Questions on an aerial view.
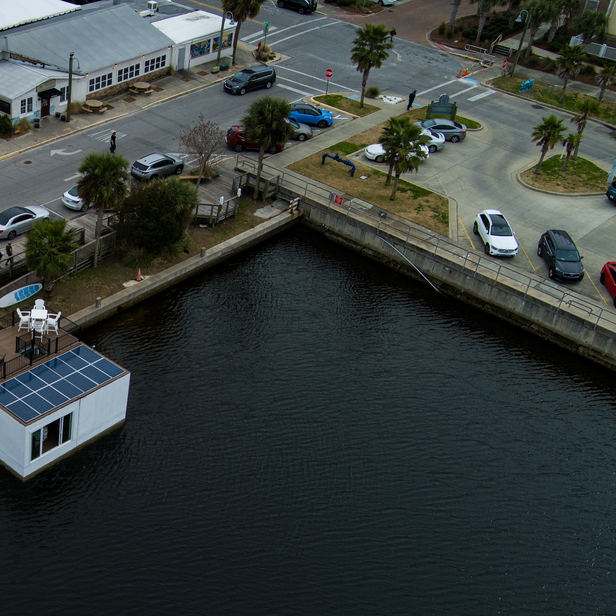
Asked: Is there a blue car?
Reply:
Yes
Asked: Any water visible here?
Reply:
Yes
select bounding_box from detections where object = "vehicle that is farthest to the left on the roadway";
[0,202,53,240]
